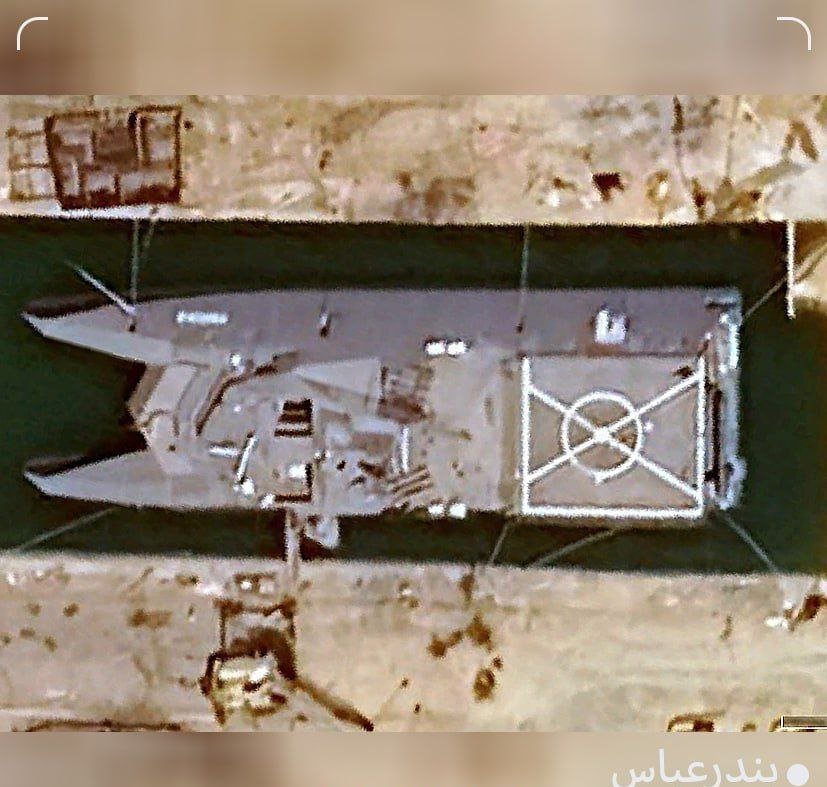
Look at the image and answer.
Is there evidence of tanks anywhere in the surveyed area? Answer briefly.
No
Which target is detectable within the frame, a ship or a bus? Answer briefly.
ship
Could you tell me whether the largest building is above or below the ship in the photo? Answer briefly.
above it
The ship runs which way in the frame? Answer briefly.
from left to right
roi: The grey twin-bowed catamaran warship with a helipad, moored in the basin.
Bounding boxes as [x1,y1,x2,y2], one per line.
[23,264,749,552]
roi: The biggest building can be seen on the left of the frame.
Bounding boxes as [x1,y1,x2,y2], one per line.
[43,102,182,215]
